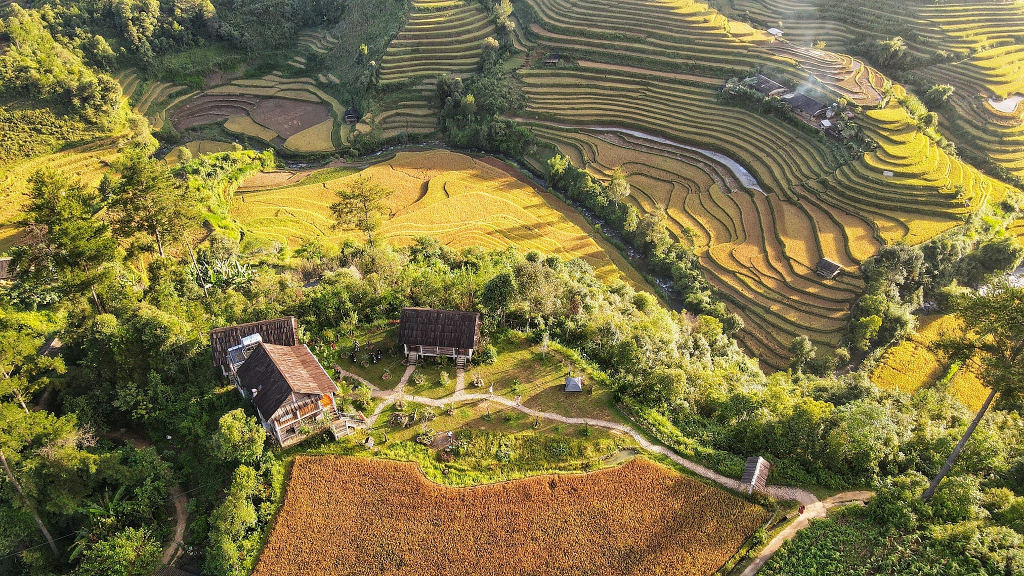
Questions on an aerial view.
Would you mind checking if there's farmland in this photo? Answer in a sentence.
Yes, farmland shows up in the scene.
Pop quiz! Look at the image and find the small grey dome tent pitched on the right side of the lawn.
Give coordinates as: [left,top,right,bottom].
[561,378,583,397]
